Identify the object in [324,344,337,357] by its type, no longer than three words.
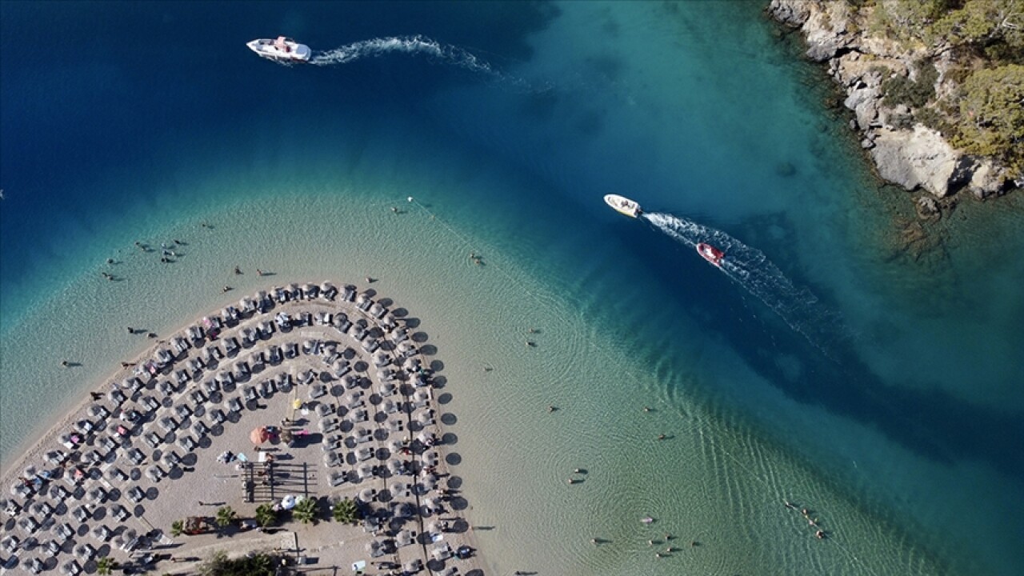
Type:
umbrella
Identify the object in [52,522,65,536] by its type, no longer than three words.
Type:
umbrella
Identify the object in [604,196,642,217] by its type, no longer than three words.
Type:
boat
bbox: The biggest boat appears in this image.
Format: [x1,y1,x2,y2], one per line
[248,39,313,61]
